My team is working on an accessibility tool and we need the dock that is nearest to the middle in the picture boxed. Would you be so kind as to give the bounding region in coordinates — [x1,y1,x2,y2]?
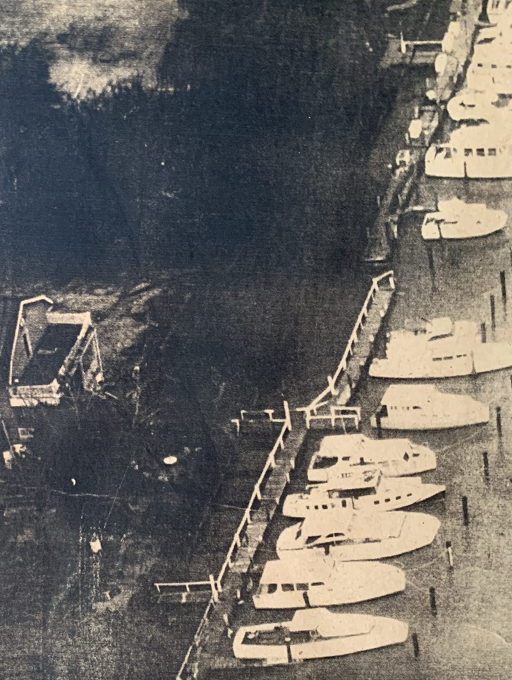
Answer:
[314,288,399,427]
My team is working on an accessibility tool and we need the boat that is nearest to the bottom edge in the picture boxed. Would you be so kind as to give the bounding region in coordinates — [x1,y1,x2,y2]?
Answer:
[234,614,407,666]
